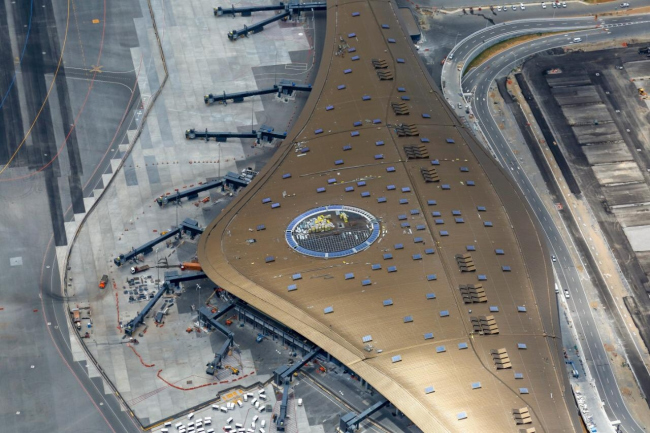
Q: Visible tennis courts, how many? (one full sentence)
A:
No tennis courts are visible.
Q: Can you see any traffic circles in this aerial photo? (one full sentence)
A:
No, the scene contains no traffic circle.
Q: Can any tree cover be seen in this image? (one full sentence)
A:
No, tree cover can't be seen anywhere here.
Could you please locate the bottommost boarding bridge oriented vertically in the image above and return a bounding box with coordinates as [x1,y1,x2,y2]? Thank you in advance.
[268,354,310,433]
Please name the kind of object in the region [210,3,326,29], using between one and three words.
jet bridge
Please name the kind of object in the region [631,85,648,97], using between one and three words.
vehicle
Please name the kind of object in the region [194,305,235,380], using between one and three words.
jet bridge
